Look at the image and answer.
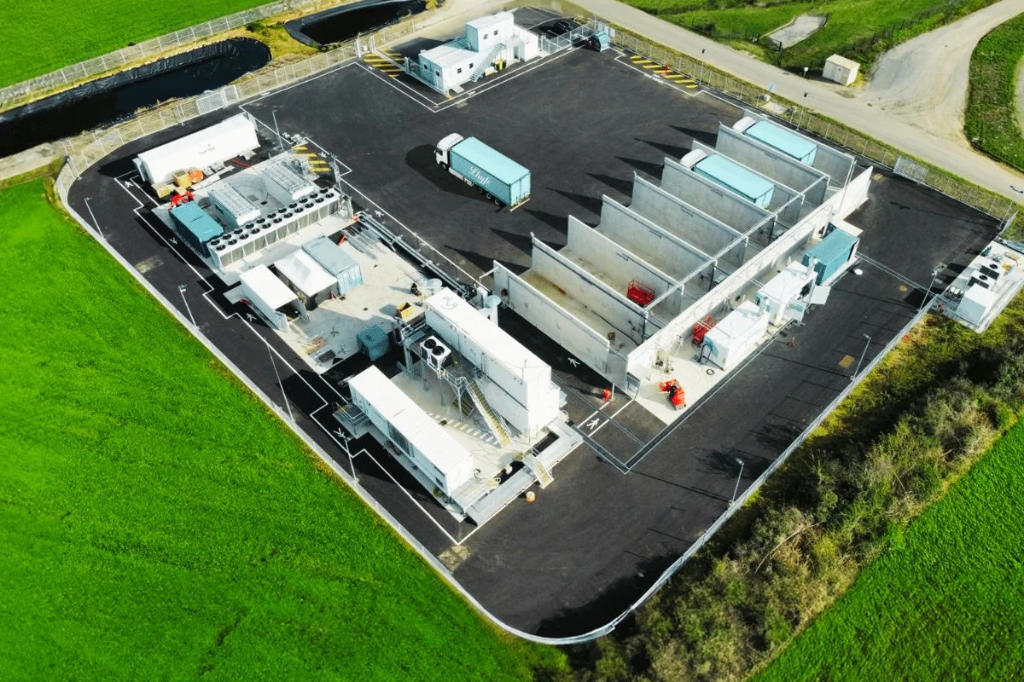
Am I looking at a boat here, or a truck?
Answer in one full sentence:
It is a truck that can be seen here.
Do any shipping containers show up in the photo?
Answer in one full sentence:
Yes, there's a shipping container here.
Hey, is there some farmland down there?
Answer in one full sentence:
Yes, farmland can be seen from above here.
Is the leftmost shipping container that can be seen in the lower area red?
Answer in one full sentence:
No, the color of the leftmost shipping container that can be seen in the lower area is white.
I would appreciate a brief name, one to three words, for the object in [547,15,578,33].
car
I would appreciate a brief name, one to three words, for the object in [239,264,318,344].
shed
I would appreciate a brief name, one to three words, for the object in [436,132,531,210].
truck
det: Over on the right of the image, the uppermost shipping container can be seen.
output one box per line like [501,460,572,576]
[805,226,870,284]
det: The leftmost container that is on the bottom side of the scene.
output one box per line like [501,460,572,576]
[347,364,473,494]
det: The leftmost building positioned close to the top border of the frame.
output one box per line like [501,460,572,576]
[419,5,539,90]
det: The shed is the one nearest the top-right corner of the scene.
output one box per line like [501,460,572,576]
[822,54,862,85]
